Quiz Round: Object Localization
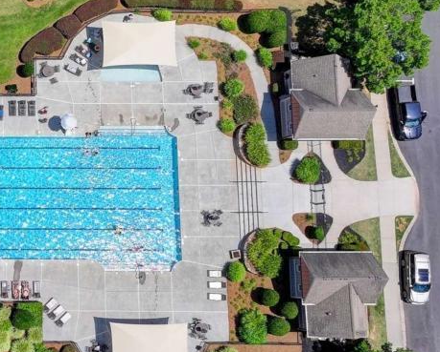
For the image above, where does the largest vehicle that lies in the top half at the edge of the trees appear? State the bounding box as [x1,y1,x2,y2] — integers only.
[392,84,429,140]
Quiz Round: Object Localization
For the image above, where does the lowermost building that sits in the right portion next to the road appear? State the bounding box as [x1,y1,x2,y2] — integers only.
[283,251,392,341]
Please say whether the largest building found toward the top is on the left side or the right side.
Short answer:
right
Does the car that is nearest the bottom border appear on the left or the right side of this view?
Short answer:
right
